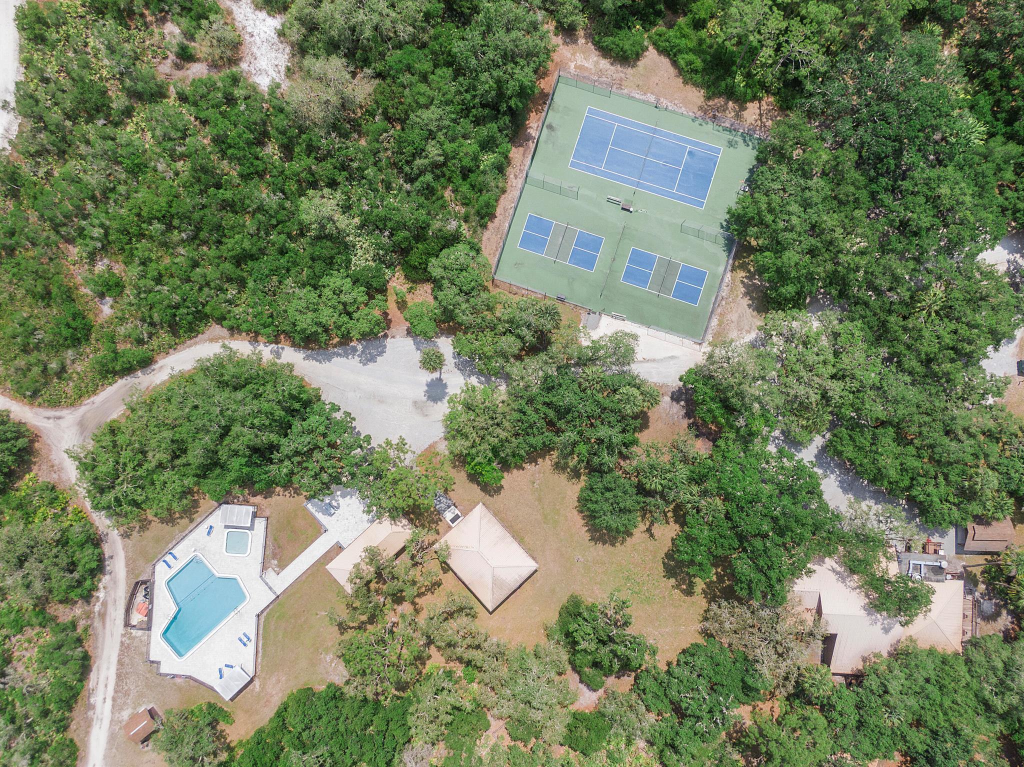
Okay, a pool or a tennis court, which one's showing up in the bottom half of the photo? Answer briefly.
pool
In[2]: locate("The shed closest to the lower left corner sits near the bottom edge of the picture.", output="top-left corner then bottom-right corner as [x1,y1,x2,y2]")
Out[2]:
[124,703,166,743]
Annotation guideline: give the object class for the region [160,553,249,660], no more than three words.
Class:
swimming pool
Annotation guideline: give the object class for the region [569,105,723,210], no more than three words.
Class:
tennis court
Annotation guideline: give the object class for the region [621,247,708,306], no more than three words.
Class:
sports court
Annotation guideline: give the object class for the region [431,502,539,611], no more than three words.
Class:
building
